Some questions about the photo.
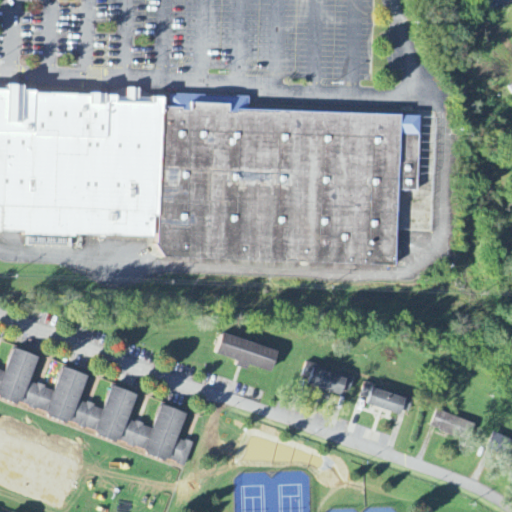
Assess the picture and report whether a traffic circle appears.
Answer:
No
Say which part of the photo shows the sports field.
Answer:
bottom left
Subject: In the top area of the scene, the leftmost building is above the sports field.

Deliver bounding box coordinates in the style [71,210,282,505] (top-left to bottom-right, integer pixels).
[0,82,166,248]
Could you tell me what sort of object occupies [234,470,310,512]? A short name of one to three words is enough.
tennis court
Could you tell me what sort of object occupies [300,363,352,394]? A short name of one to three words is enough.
house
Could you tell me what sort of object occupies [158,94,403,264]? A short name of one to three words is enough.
building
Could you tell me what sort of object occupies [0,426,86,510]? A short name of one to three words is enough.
sports field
